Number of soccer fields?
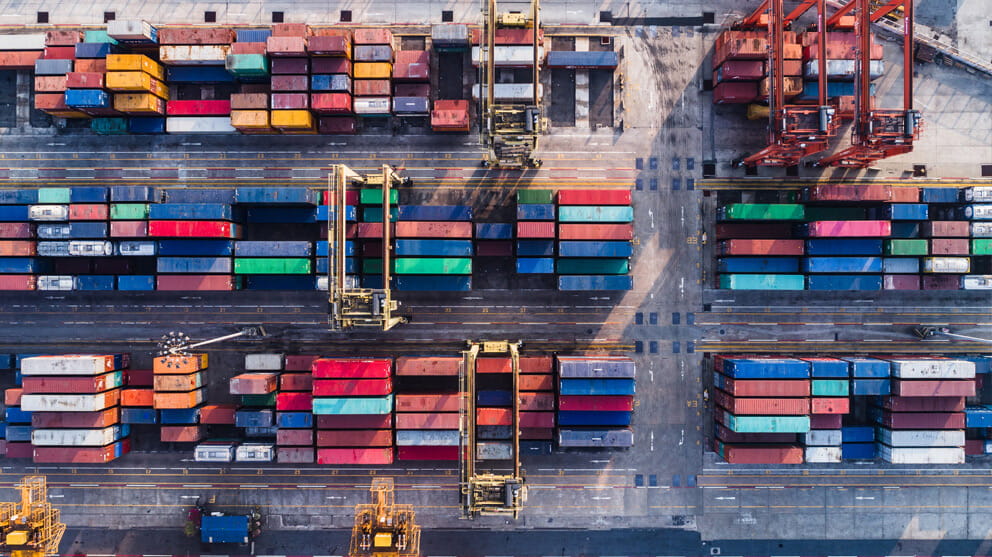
0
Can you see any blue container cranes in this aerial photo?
No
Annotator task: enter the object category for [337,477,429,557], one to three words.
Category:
container crane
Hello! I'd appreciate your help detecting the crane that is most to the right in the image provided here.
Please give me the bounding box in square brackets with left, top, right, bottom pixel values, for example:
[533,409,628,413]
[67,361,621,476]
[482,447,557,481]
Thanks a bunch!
[792,0,920,165]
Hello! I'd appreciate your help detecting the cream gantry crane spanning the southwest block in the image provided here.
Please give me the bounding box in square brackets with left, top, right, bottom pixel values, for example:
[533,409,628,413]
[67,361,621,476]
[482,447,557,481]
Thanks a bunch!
[452,342,531,530]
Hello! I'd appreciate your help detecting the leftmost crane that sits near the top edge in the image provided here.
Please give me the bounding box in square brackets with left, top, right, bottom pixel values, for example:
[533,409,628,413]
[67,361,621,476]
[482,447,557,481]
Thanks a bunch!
[473,0,549,165]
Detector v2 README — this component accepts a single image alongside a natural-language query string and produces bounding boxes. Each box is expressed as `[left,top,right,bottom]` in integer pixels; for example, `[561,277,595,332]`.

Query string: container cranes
[324,158,420,339]
[792,0,920,165]
[720,0,833,165]
[452,342,531,530]
[337,477,429,557]
[473,0,549,165]
[0,476,80,557]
